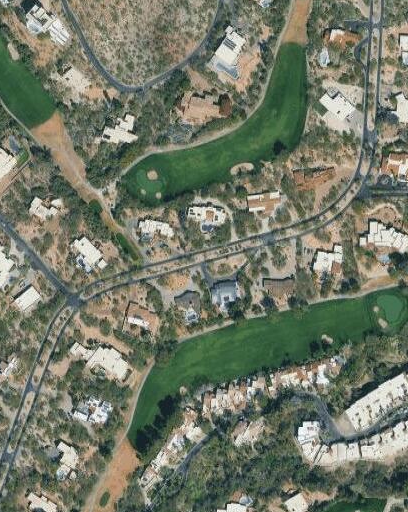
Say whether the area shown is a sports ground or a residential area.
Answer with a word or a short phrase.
residential area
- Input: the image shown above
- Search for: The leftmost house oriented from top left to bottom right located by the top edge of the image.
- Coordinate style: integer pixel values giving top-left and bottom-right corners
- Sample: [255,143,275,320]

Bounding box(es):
[26,5,70,43]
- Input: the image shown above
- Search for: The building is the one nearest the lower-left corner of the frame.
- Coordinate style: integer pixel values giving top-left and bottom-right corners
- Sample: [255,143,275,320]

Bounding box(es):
[26,492,61,512]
